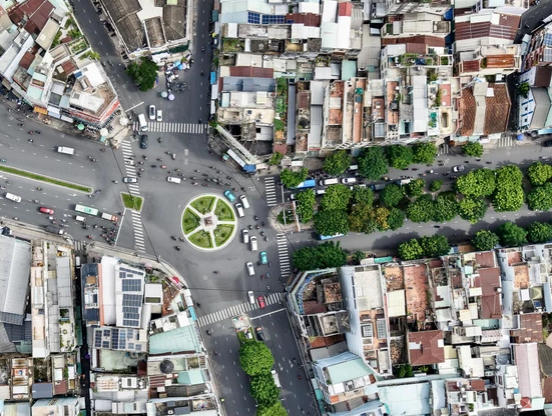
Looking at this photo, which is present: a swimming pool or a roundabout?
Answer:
roundabout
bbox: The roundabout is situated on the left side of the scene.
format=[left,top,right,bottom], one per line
[182,194,237,250]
